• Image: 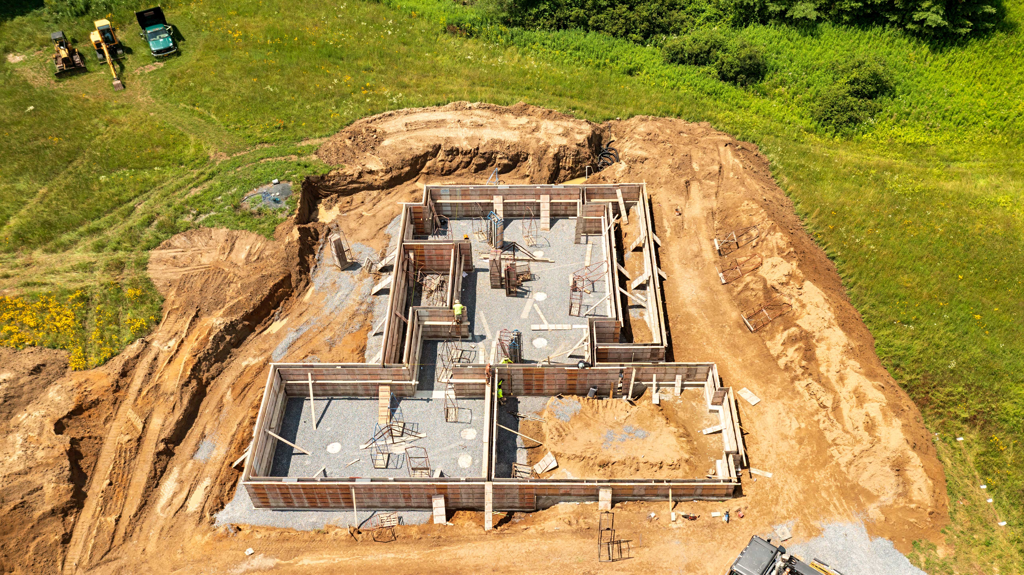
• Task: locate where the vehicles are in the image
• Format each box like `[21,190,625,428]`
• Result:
[89,18,126,87]
[732,530,875,575]
[51,32,88,78]
[132,0,176,56]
